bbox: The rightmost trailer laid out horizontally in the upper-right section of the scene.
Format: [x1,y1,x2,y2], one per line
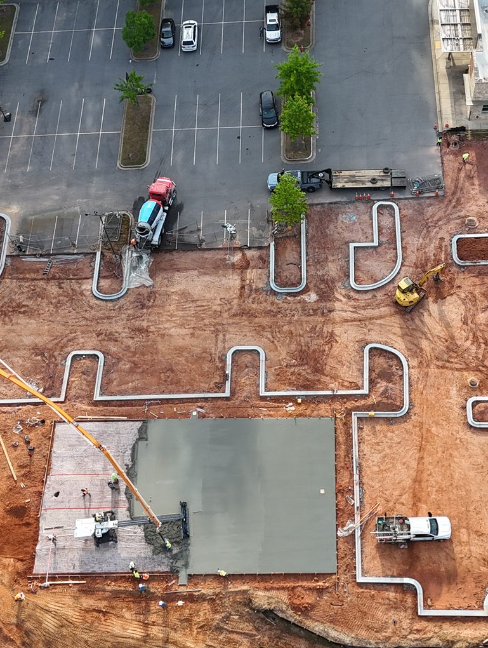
[313,163,408,186]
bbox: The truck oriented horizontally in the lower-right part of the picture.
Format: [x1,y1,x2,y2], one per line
[374,513,451,544]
